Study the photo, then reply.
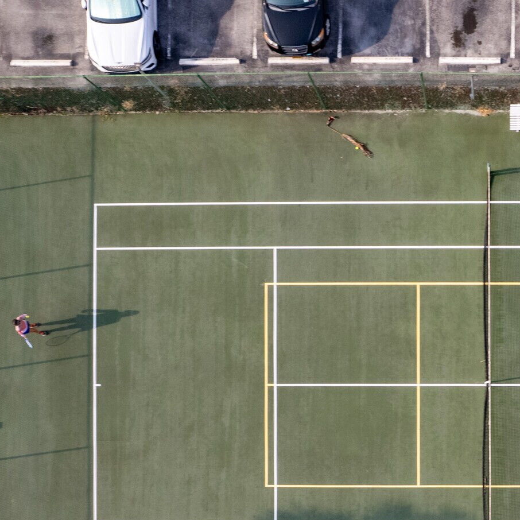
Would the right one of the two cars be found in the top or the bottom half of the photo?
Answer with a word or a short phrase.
top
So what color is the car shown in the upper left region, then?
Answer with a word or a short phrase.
white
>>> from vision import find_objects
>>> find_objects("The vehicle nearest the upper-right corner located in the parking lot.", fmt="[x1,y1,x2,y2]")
[263,0,327,59]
